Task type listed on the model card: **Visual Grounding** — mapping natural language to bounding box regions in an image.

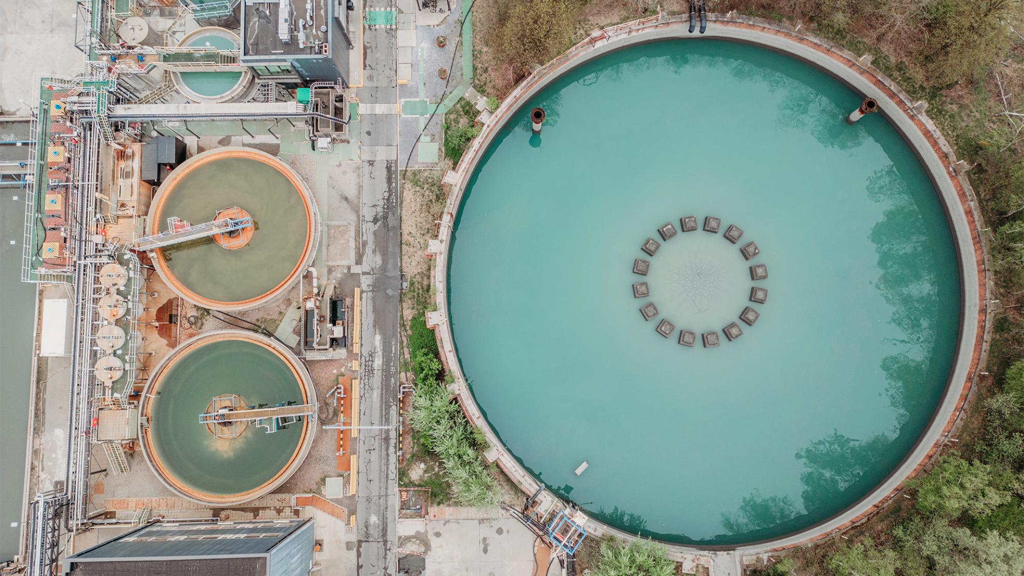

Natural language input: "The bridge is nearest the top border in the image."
[79,111,353,140]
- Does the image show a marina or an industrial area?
industrial area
